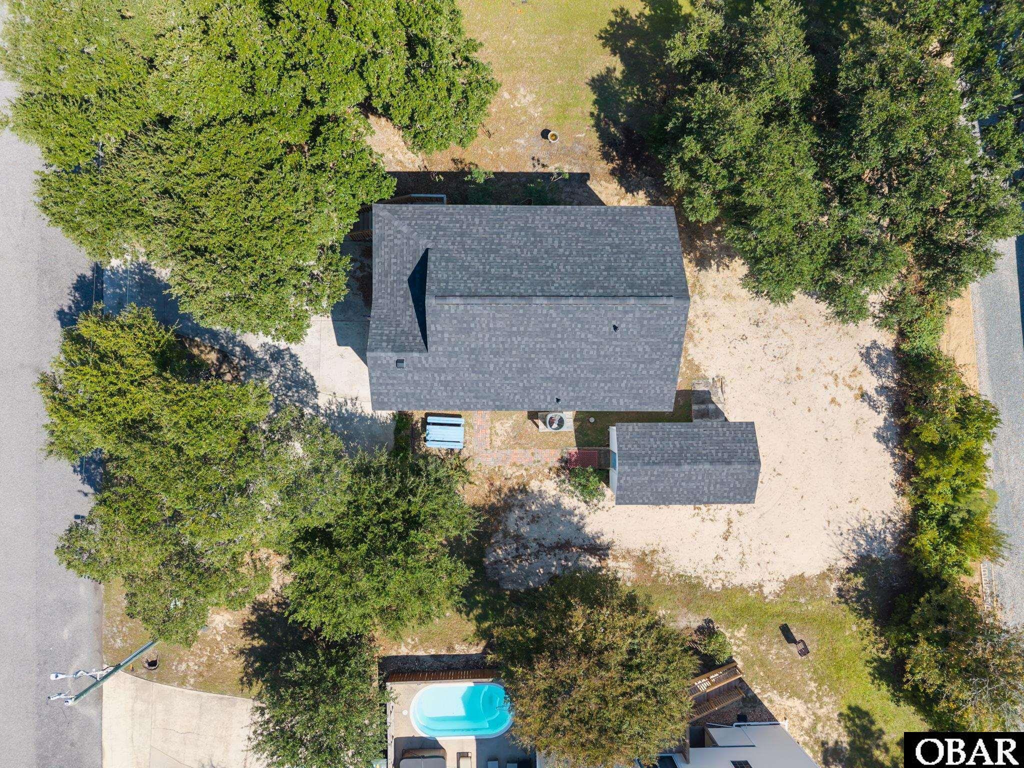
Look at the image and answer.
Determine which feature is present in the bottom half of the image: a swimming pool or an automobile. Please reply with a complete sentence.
What appears in the bottom half of the image is a swimming pool.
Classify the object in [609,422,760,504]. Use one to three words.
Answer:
shed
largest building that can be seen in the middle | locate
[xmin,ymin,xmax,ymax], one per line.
[366,204,690,412]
